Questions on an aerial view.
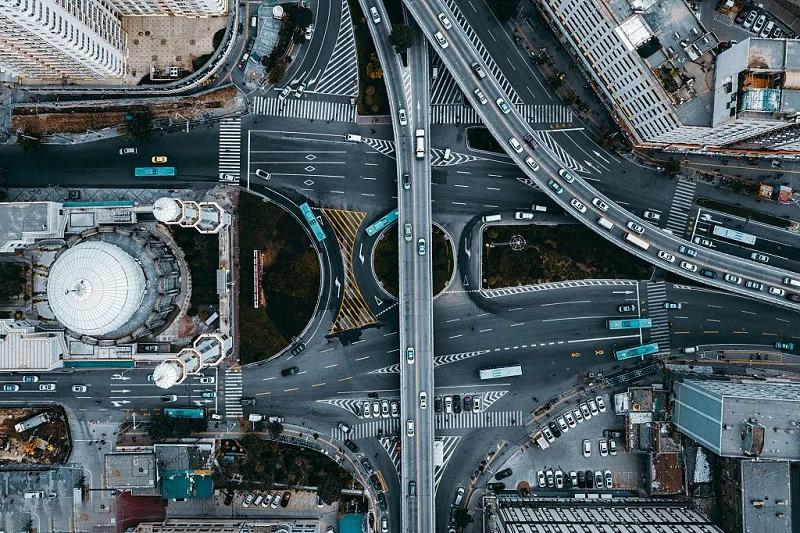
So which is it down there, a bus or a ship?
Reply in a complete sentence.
Of the two, only a bus appears.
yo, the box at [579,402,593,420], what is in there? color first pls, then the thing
white car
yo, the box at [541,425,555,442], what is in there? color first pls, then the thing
white vehicle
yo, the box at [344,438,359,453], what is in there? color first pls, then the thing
black car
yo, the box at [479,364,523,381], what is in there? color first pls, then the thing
white vehicle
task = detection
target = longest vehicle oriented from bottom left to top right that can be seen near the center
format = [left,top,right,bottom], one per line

[363,204,399,239]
